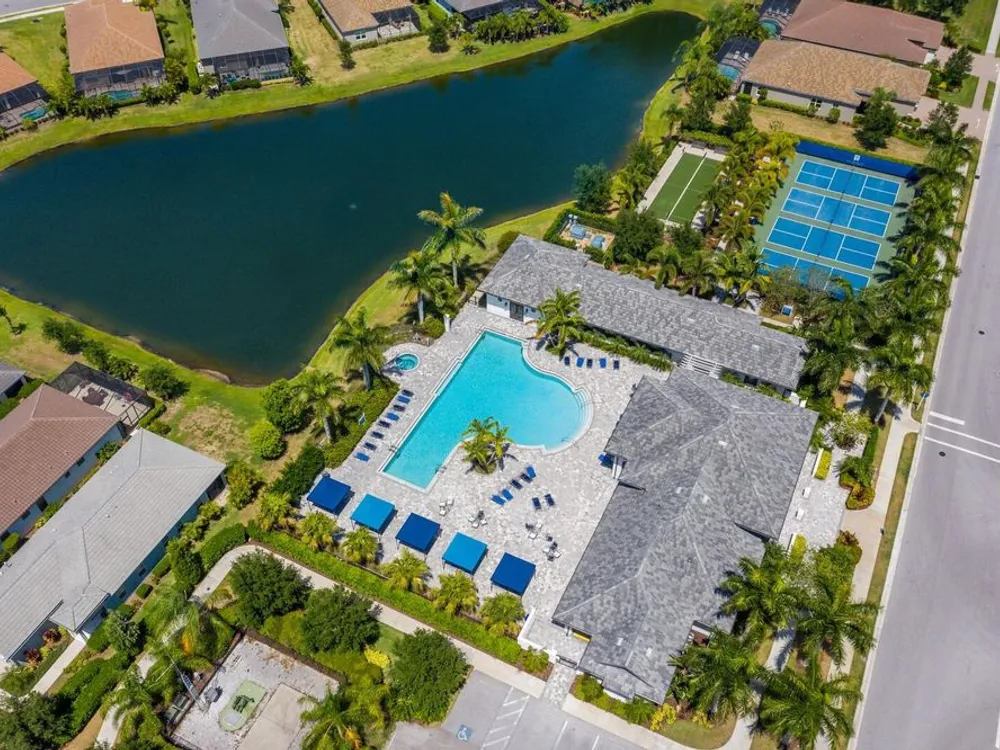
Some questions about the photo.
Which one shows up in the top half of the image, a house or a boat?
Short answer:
house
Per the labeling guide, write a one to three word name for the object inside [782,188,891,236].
sports court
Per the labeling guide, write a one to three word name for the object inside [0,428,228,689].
house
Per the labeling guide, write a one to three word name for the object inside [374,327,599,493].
swimming pool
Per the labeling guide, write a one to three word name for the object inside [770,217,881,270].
sports court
